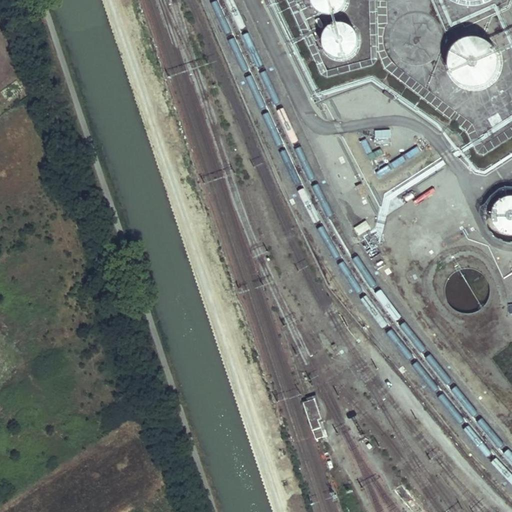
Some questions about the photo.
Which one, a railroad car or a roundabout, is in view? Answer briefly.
railroad car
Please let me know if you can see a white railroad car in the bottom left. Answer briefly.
No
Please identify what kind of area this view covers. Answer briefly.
industrial area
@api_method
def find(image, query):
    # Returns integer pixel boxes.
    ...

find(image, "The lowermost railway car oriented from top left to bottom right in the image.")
[492,459,512,486]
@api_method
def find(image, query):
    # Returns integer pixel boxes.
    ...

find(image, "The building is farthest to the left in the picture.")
[302,398,327,442]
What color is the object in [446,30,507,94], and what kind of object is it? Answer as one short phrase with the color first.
white storage tank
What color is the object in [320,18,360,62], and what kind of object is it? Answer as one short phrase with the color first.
white storage tank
